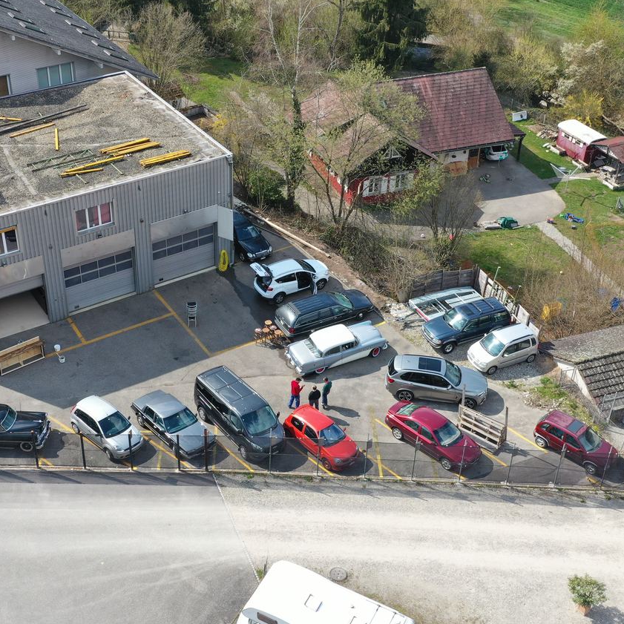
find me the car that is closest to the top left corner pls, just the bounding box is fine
[233,208,271,261]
